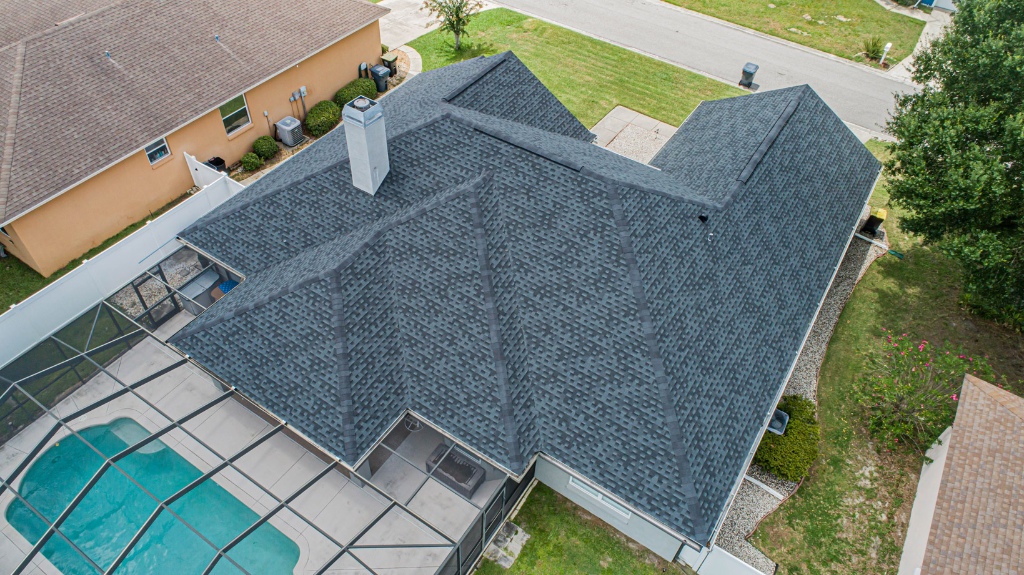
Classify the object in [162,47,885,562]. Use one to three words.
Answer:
house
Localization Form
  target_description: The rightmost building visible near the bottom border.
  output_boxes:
[897,373,1024,575]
